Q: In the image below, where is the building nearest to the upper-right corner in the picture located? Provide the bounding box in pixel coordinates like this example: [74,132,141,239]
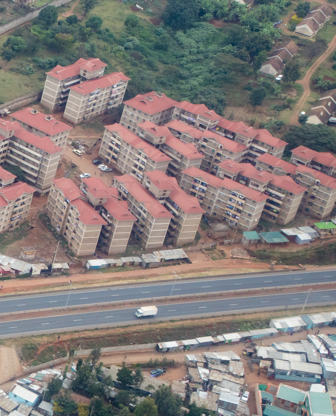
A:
[298,1,328,36]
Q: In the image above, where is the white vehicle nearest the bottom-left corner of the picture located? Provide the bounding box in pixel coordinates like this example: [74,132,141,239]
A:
[137,304,160,317]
